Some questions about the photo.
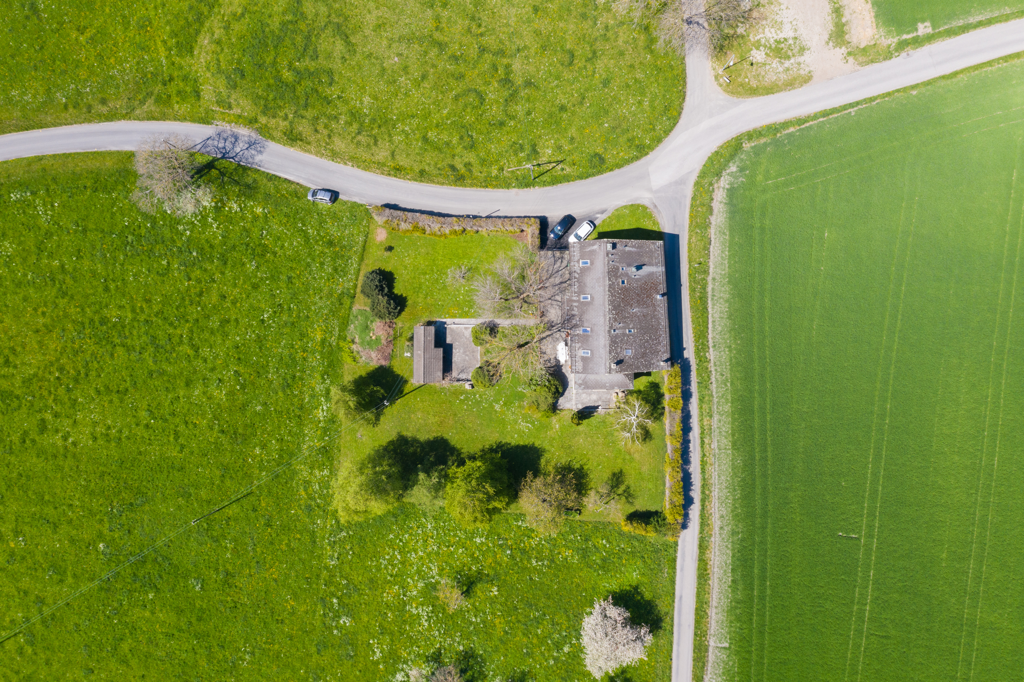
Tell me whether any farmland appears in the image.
Yes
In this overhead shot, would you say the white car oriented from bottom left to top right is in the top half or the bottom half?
top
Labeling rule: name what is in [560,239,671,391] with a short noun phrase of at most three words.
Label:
house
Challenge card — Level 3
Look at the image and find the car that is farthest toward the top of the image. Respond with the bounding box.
[307,189,335,205]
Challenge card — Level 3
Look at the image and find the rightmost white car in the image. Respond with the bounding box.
[569,218,593,242]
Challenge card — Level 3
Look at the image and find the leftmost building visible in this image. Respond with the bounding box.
[412,326,444,383]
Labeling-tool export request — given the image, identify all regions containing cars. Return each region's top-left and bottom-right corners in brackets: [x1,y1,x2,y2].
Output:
[550,214,574,241]
[307,189,335,205]
[569,218,593,242]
